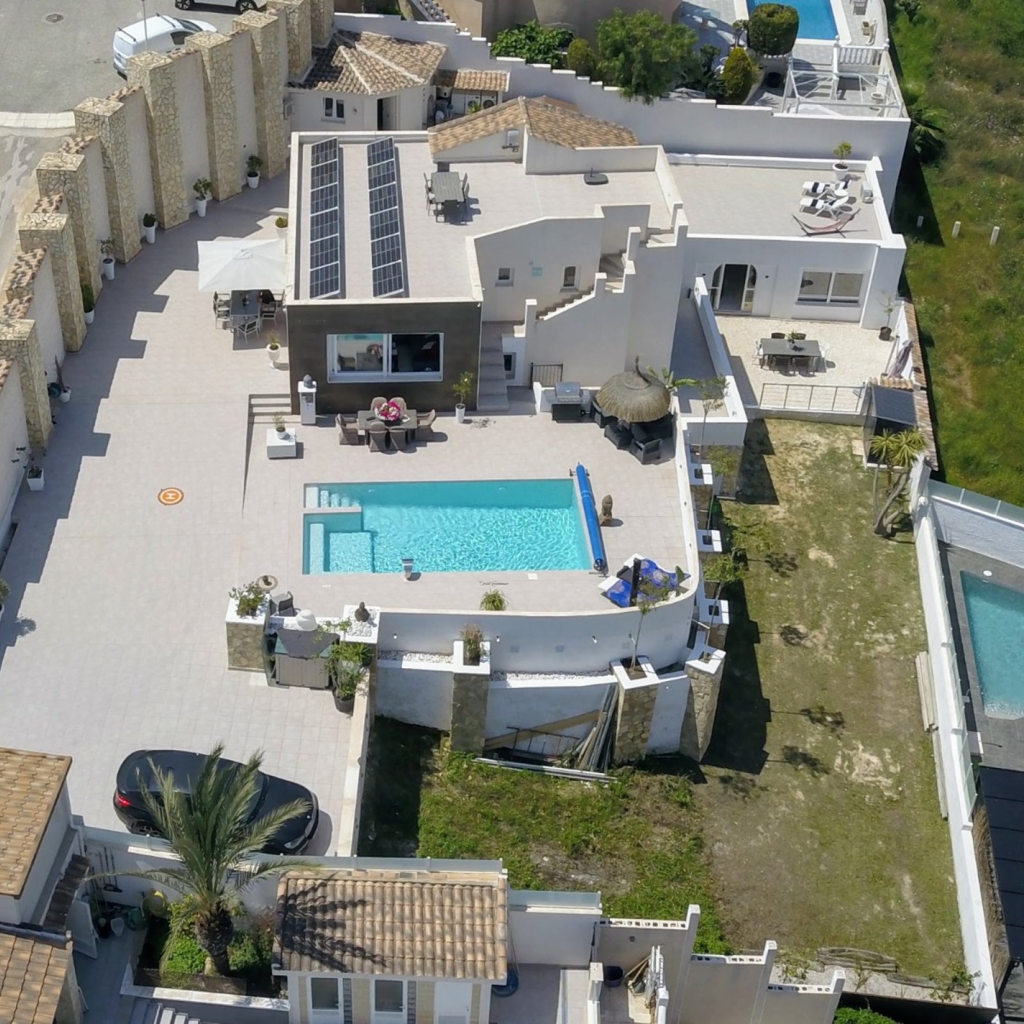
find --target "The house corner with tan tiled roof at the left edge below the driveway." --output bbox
[0,730,102,927]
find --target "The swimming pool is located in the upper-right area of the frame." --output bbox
[740,0,851,47]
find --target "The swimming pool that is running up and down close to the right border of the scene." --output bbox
[962,572,1024,721]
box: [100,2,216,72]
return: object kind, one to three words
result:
van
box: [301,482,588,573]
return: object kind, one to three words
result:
swimming pool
